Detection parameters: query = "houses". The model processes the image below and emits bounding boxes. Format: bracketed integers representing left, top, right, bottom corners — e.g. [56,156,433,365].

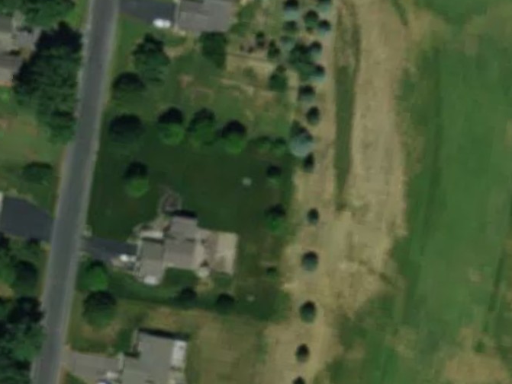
[176,0,239,34]
[119,333,187,384]
[0,14,21,84]
[137,213,221,284]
